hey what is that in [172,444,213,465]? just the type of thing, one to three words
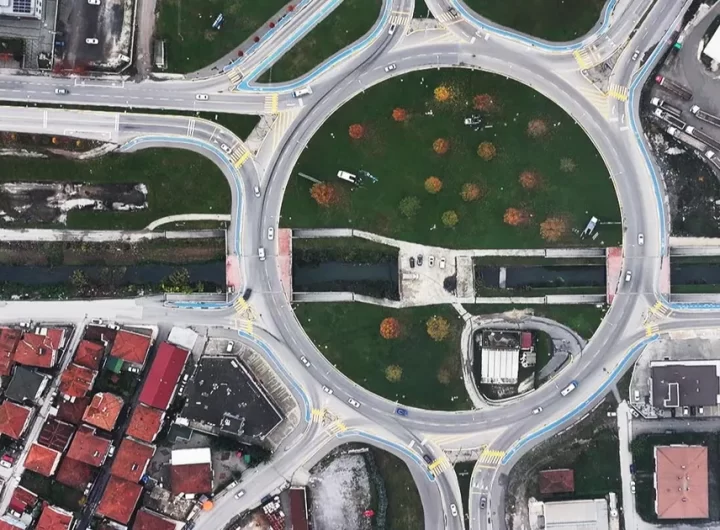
building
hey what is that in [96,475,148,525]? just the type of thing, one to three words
house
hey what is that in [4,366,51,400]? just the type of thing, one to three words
house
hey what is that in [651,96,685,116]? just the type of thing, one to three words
vehicle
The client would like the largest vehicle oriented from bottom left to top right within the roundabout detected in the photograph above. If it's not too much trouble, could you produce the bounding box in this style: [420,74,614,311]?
[560,382,579,396]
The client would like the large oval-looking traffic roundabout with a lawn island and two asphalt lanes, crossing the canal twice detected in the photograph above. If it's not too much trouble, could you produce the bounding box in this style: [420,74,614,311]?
[238,14,661,460]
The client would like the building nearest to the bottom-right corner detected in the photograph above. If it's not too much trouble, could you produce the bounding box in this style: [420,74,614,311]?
[651,444,708,519]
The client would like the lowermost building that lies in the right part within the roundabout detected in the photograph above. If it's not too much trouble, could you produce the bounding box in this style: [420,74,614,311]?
[480,349,518,387]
